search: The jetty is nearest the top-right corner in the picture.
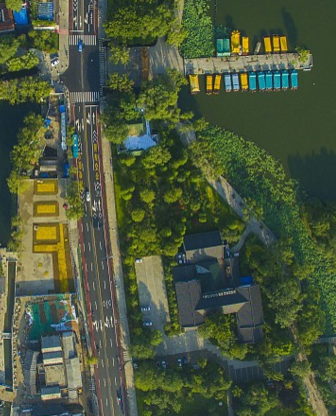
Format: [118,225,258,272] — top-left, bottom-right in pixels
[185,53,312,75]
